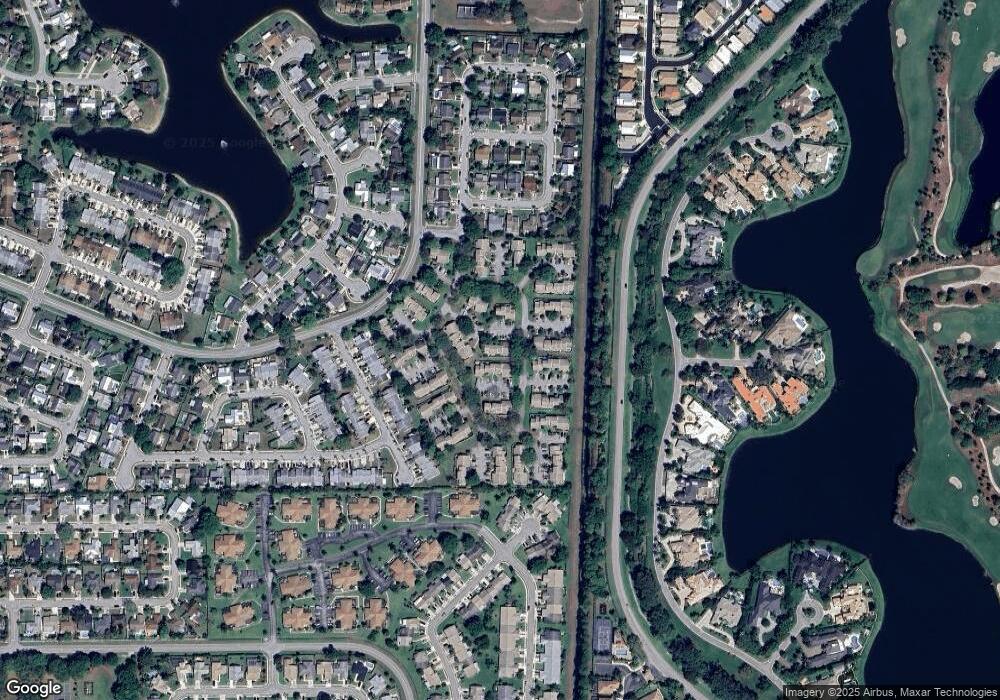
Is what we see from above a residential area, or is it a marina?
residential area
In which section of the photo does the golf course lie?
right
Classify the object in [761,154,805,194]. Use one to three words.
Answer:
house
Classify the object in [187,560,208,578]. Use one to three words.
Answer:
house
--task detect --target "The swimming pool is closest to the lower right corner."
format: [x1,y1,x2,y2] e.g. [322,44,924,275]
[848,633,862,650]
